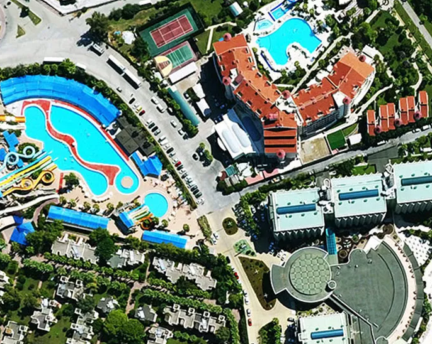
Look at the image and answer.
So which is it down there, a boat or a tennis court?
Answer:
tennis court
